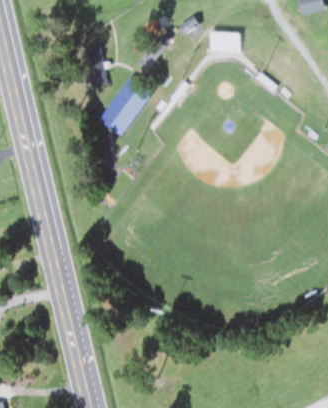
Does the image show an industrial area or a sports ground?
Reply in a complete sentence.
It's a sports ground.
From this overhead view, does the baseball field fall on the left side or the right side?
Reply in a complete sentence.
It is on the right.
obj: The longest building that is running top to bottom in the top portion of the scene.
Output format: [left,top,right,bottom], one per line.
[90,45,112,86]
